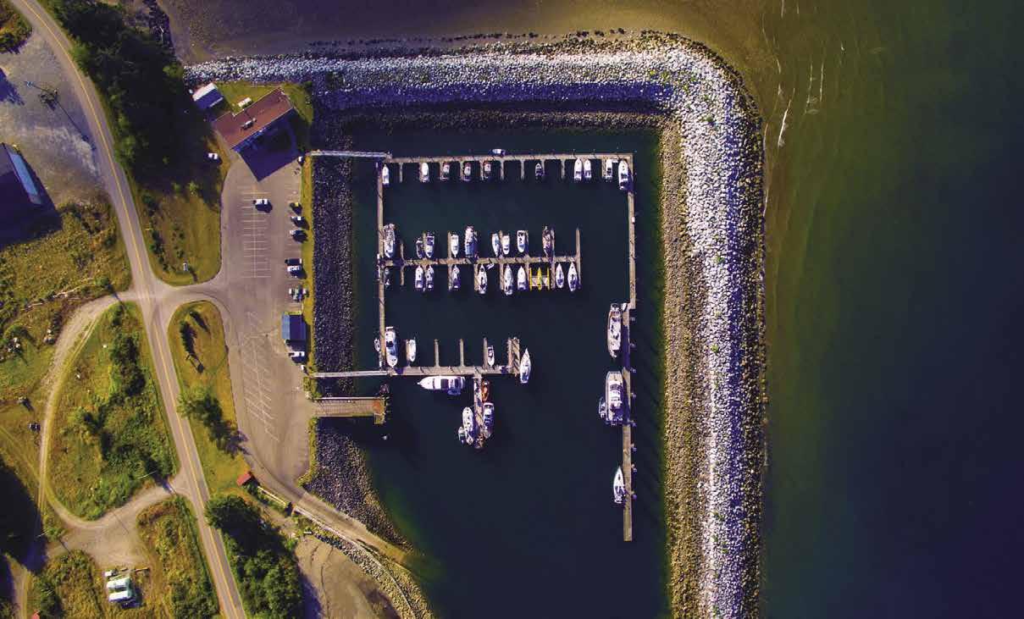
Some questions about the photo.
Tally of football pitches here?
0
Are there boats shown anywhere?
Yes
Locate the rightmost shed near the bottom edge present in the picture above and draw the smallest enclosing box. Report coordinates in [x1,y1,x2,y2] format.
[105,572,139,603]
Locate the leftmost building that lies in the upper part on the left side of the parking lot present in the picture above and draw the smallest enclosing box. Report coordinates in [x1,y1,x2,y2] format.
[0,142,48,229]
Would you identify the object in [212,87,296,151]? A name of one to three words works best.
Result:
building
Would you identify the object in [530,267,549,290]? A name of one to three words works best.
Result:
boat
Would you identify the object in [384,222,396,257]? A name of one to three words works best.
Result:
boat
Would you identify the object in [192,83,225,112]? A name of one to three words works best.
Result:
house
